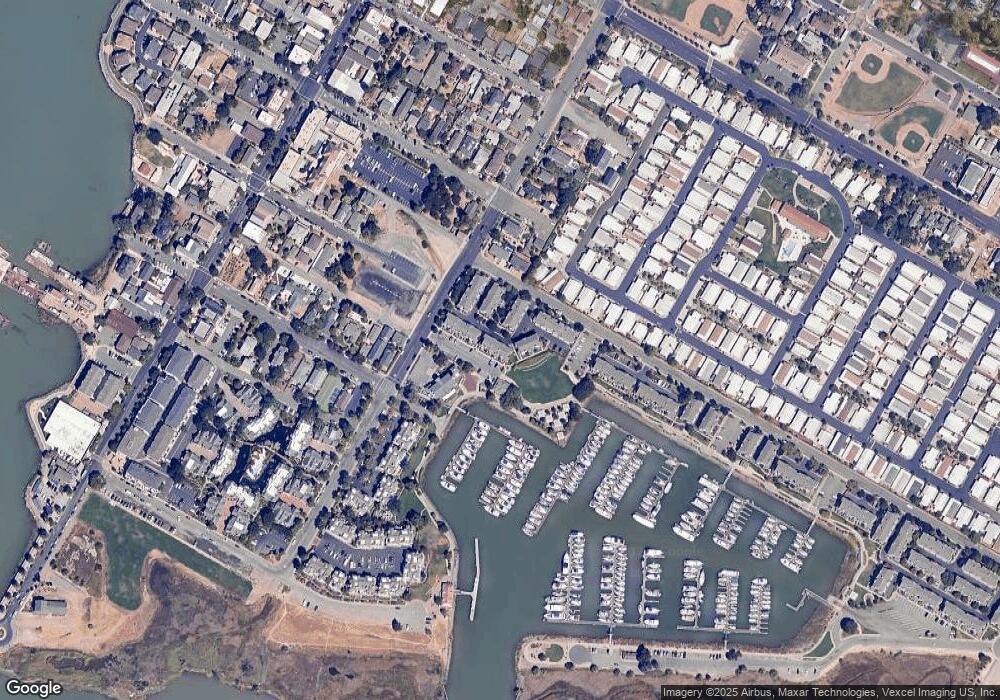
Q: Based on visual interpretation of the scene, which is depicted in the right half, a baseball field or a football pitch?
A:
baseball field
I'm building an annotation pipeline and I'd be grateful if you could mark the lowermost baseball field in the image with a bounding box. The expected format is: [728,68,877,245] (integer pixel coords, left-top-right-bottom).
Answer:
[876,101,949,169]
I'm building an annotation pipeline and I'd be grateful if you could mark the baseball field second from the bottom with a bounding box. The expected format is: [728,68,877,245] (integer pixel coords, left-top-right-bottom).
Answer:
[824,40,926,118]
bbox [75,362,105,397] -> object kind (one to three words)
building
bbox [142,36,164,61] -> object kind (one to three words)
house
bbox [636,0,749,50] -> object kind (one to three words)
baseball field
